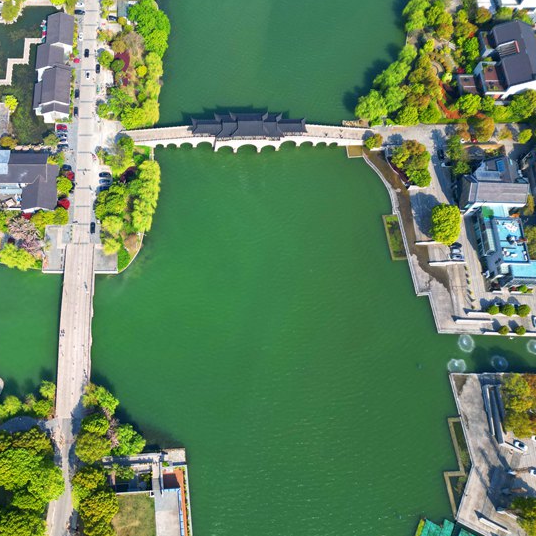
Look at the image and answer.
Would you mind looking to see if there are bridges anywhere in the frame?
Yes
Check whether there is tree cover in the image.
Yes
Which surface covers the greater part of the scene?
water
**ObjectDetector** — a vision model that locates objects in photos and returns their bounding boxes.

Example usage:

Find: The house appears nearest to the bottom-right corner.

[502,261,536,285]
